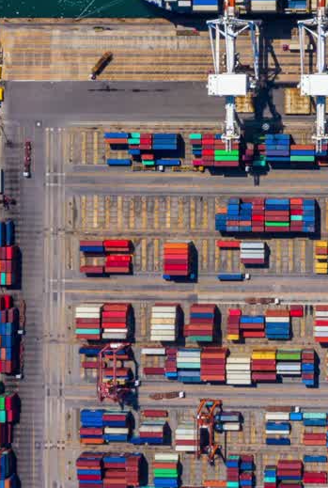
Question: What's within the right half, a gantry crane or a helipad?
gantry crane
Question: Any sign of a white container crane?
Yes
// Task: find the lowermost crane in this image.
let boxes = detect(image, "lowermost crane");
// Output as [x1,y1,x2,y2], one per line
[196,389,222,454]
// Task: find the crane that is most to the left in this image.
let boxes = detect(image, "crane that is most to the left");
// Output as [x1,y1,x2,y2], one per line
[99,339,129,397]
